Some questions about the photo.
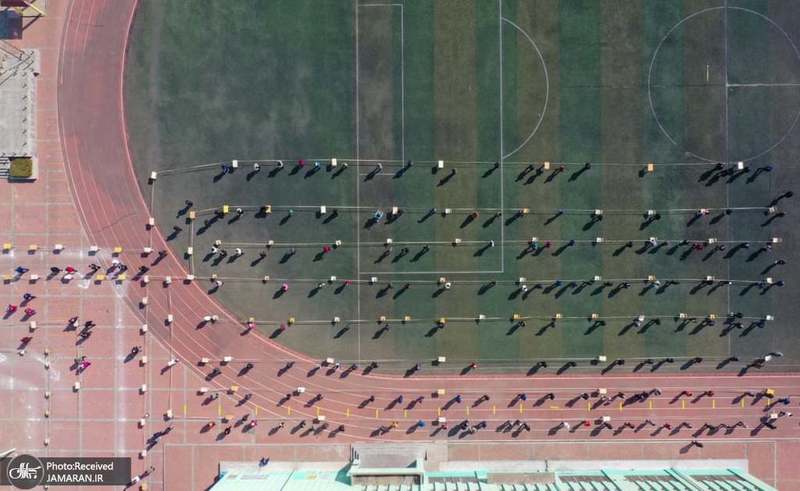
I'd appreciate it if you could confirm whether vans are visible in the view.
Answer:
No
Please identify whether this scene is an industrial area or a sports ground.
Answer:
sports ground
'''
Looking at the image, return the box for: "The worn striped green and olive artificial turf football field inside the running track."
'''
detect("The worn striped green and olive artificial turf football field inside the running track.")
[122,0,800,377]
